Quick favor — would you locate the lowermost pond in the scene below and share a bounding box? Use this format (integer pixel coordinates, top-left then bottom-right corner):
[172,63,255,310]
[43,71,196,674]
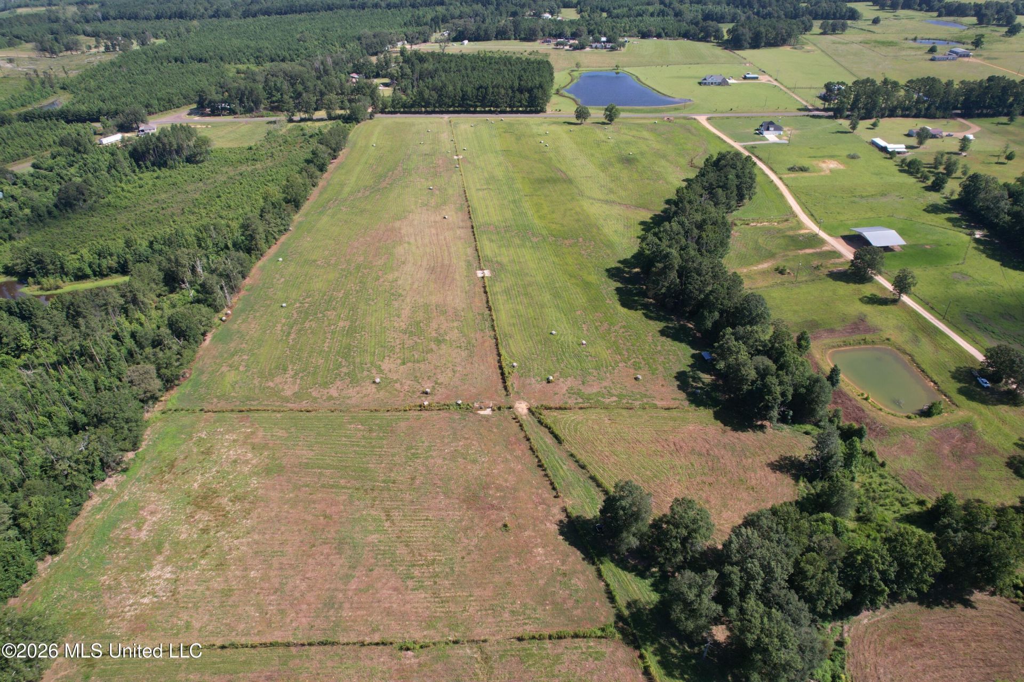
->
[828,346,942,415]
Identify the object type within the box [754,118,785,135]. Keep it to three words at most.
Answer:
house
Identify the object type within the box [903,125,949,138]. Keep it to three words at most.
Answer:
house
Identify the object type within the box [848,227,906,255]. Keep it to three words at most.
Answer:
barn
